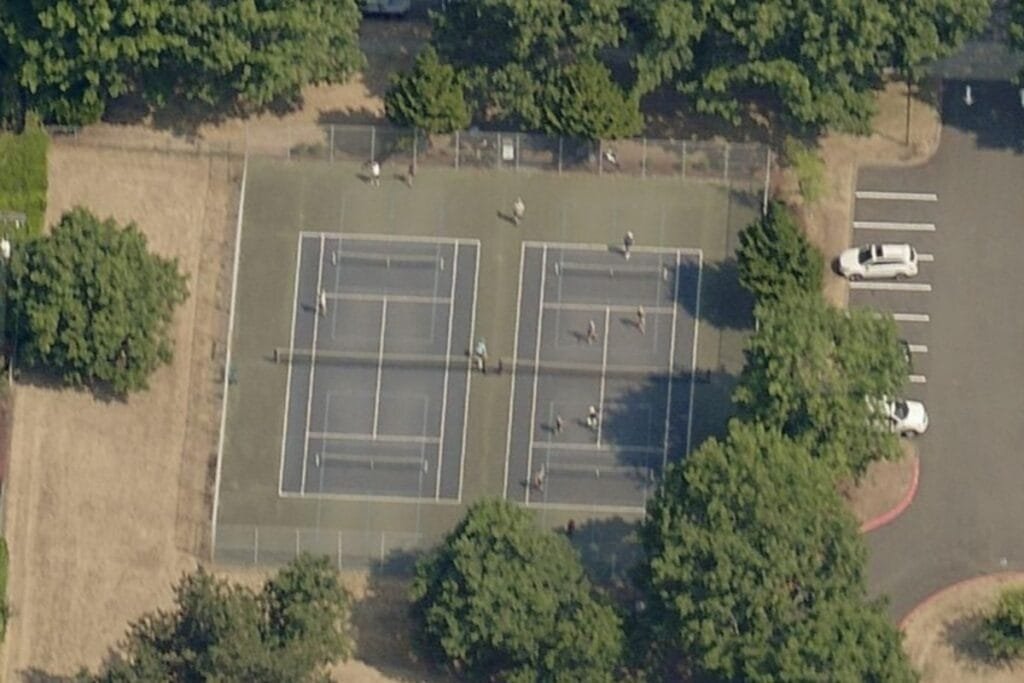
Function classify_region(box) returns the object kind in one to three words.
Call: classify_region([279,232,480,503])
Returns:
tennis court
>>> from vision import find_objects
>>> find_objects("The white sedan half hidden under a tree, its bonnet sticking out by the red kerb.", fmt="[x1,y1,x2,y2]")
[881,404,929,438]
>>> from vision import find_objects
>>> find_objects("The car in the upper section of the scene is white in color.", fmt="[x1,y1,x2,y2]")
[840,245,918,284]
